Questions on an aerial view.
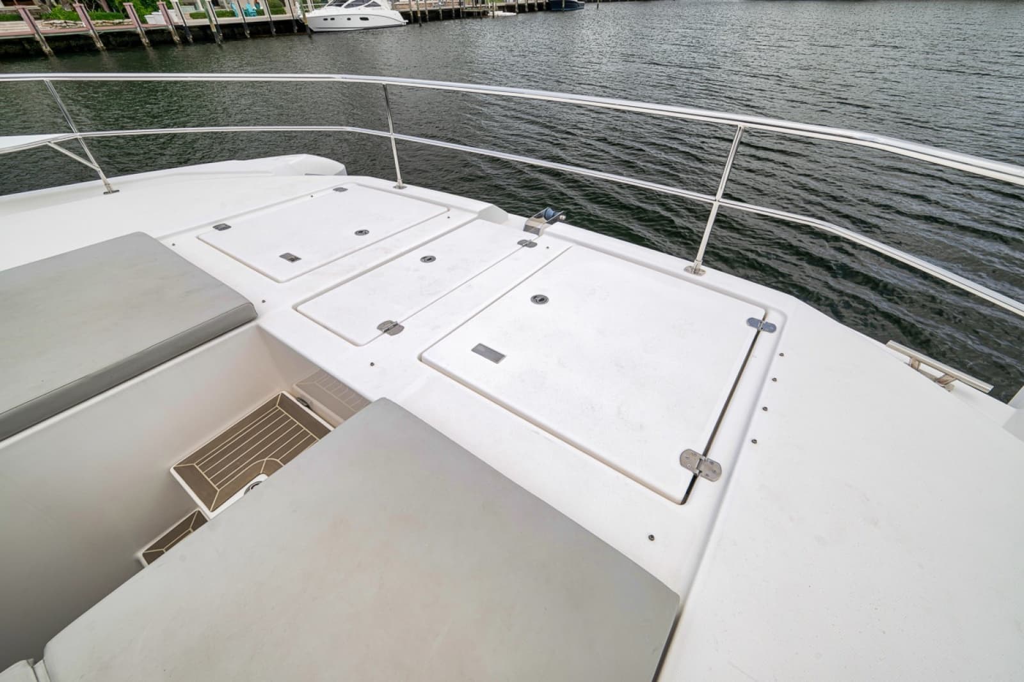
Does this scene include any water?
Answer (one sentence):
Yes, some water is visible.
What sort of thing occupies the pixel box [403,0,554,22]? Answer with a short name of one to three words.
pier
